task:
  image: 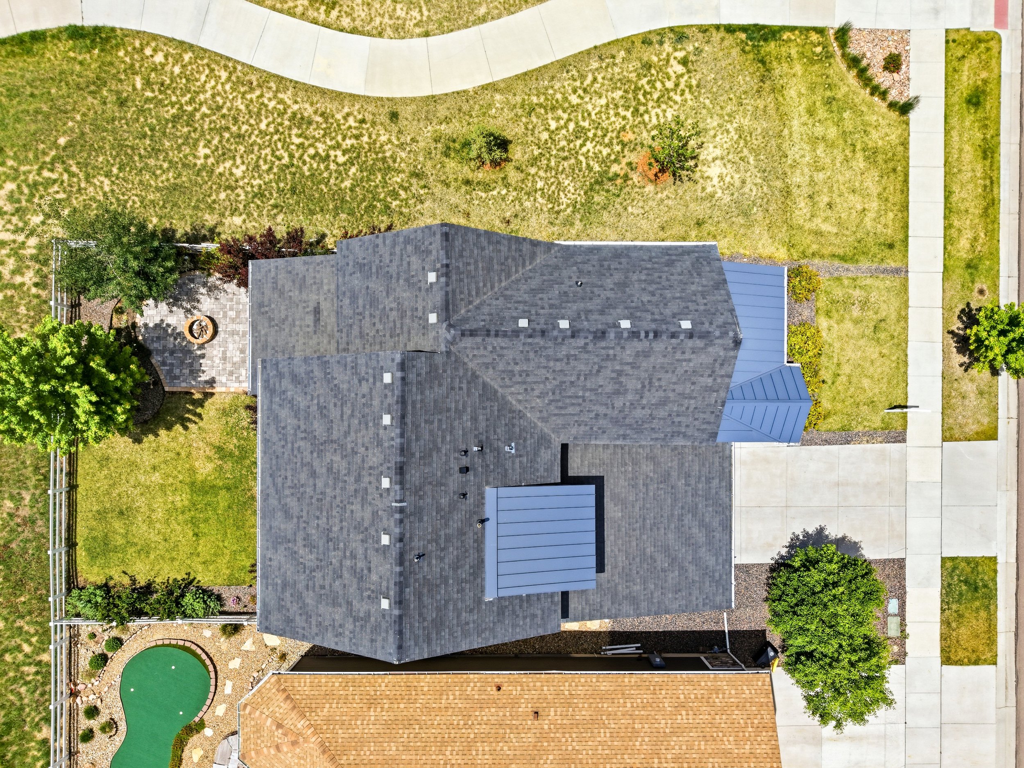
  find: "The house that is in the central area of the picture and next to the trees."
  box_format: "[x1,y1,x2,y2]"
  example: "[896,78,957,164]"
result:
[246,223,812,665]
